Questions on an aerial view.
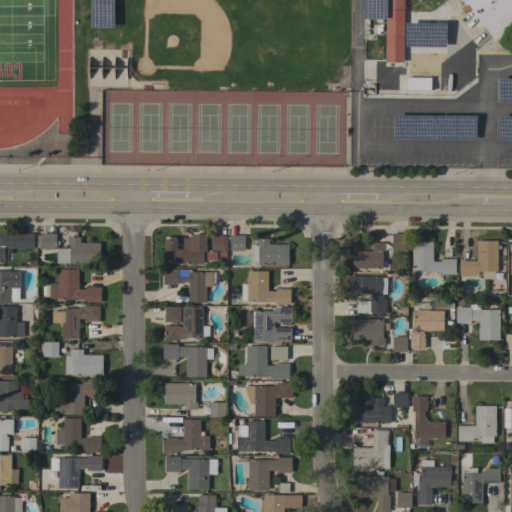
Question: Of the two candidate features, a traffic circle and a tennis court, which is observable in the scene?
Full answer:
Visible in the photo is a tennis court.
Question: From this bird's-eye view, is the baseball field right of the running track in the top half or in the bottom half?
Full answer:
The baseball field right of the running track is in the top half of the image.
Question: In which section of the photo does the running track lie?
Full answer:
Look in the top left portion of the view to spot the running track.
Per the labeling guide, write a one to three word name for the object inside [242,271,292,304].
house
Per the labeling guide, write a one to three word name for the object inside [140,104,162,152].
tennis court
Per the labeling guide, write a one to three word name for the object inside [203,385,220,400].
swimming pool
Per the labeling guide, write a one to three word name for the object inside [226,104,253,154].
tennis court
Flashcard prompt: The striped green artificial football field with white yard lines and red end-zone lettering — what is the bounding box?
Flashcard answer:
[0,0,57,86]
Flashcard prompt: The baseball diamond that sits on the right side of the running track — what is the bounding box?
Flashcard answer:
[138,0,231,80]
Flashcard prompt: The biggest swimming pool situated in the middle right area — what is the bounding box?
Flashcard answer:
[388,276,406,304]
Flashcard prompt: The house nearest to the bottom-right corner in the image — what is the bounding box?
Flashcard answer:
[464,468,502,504]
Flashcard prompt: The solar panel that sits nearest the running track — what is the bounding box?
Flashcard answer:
[90,0,114,27]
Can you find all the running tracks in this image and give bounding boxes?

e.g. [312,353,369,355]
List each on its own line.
[0,0,74,150]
